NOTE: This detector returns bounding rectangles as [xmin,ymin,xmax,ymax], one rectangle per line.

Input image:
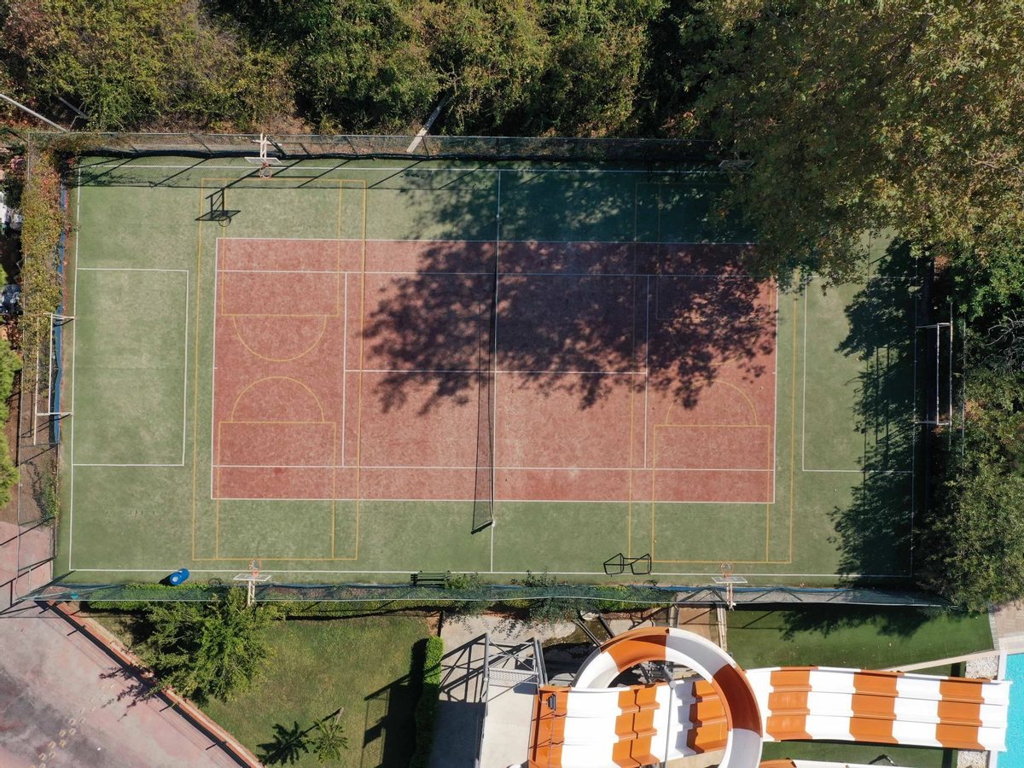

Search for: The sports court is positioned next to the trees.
[53,152,931,590]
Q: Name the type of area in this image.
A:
sports ground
